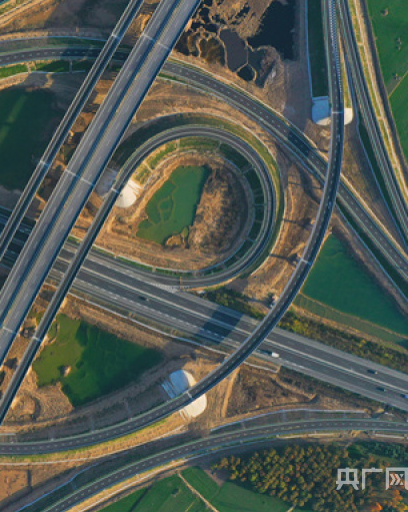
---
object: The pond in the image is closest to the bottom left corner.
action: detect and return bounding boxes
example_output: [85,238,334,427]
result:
[34,316,162,406]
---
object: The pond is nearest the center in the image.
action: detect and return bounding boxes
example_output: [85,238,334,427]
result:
[138,166,208,245]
